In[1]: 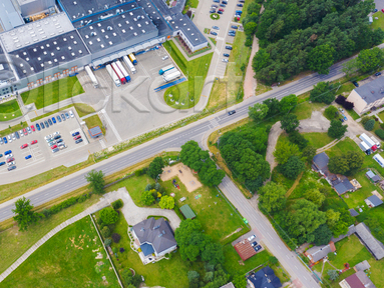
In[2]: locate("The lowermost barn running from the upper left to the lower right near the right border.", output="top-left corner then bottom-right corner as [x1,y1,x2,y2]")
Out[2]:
[354,222,384,260]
